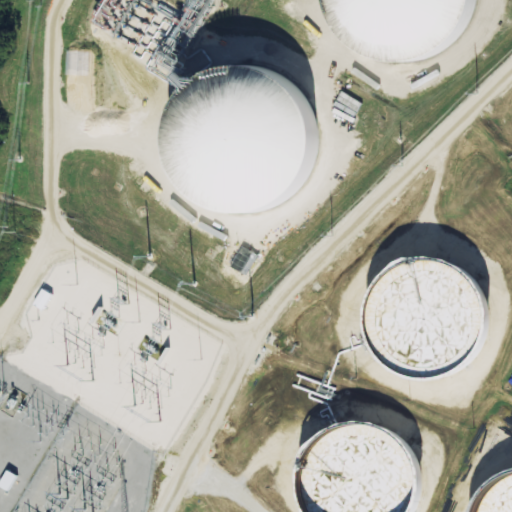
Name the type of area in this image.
industrial area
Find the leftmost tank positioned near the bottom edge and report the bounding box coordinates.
[292,418,424,512]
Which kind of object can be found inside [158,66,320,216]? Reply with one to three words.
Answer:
storage tank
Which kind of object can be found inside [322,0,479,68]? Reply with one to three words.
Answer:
storage tank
